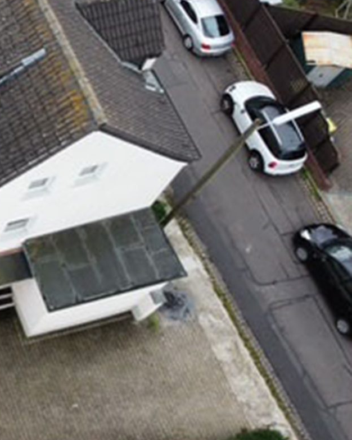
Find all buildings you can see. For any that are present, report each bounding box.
[295,32,352,92]
[0,0,201,256]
